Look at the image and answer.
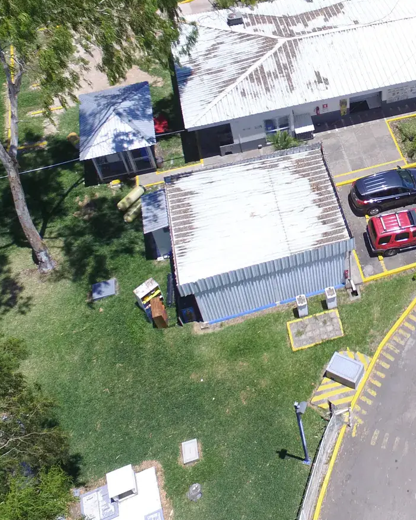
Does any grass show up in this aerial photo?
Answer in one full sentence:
Yes, there's grass in this view.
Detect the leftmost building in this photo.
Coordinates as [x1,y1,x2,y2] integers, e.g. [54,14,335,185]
[78,81,157,181]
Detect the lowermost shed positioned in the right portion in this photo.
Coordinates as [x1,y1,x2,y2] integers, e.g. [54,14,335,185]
[164,148,358,318]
